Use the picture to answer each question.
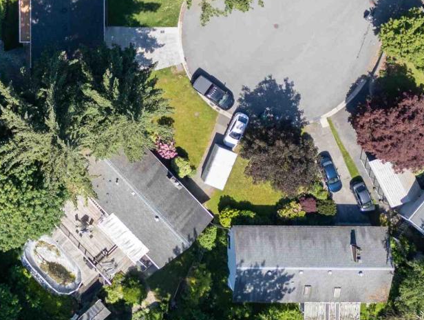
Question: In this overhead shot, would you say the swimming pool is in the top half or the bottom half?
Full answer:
The swimming pool is in the bottom half of the image.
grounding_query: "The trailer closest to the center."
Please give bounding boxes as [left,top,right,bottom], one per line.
[201,143,240,191]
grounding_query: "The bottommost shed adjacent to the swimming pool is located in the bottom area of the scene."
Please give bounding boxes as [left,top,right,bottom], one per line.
[77,300,111,320]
